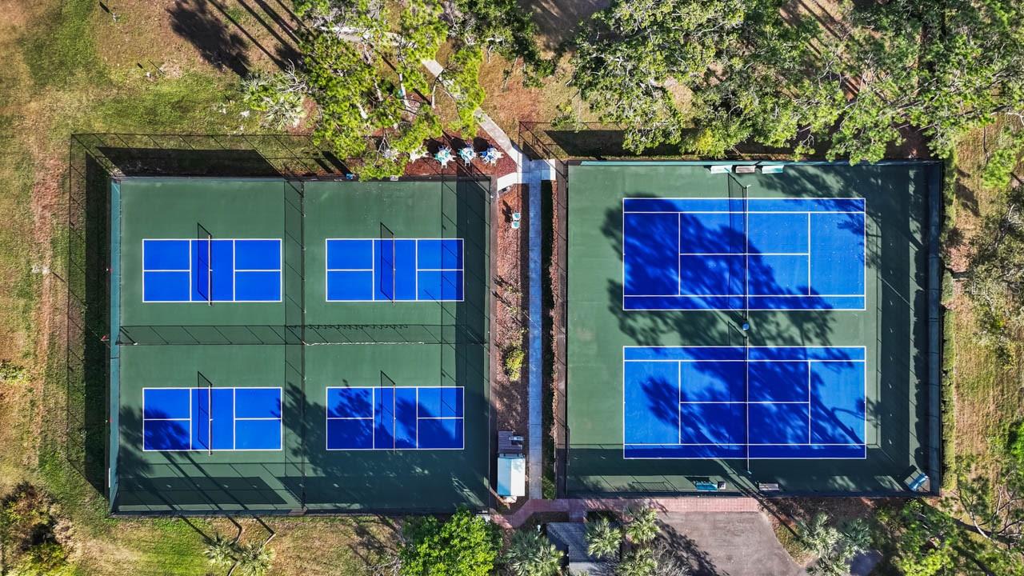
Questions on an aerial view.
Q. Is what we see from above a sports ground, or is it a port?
sports ground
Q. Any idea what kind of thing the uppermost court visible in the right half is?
tennis court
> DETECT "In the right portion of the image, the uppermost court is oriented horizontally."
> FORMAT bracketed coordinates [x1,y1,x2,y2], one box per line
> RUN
[567,168,929,329]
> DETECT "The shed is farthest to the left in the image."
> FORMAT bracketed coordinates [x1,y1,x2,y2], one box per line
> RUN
[498,454,526,497]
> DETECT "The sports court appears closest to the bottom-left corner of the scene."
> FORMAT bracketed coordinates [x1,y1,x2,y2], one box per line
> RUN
[119,346,303,510]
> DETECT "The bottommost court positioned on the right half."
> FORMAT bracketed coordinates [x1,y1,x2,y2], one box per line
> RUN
[569,329,929,492]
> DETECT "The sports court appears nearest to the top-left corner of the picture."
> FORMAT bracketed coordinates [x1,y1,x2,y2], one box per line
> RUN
[119,182,303,344]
